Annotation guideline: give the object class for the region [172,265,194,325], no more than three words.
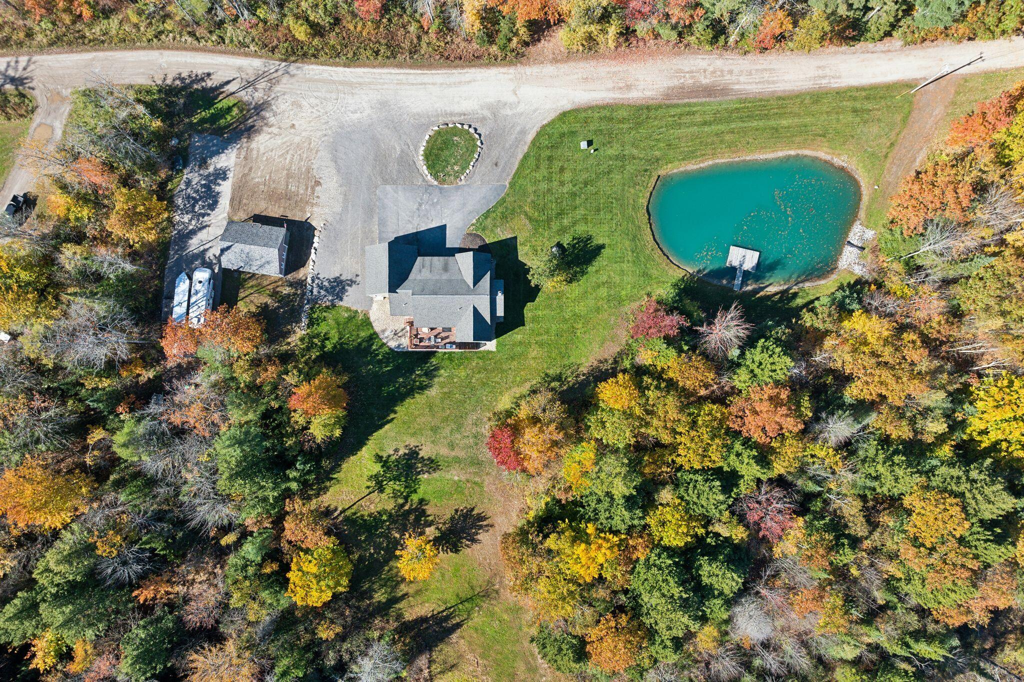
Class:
trailer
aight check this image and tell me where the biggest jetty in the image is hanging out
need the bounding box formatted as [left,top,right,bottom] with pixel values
[726,246,759,272]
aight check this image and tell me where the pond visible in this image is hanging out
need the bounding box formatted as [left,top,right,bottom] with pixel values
[651,157,858,286]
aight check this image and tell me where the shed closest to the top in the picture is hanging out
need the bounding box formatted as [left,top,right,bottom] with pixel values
[219,220,290,275]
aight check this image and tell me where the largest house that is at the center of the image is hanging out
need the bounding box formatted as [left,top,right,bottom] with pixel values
[364,243,504,341]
